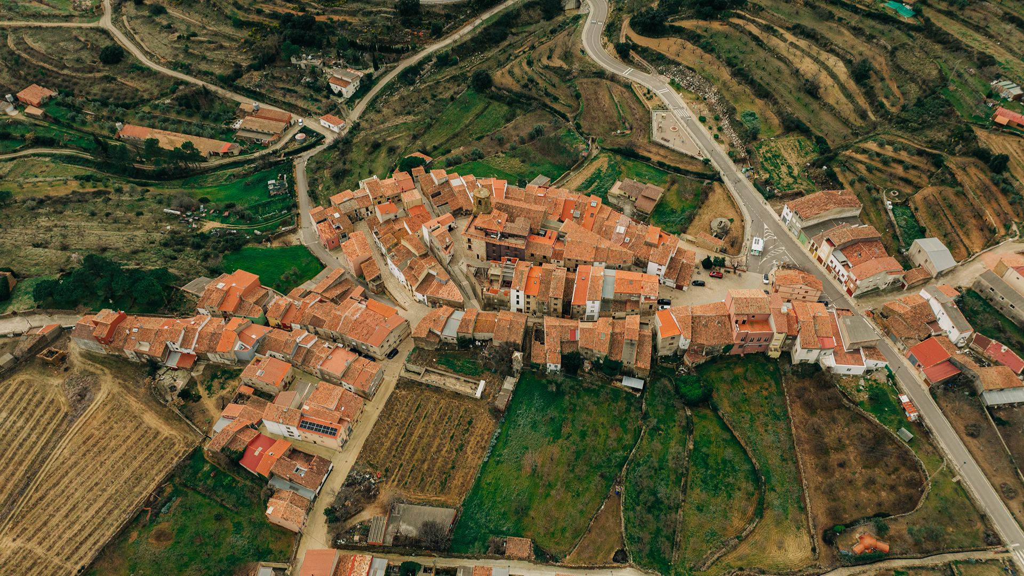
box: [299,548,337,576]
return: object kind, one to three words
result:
barn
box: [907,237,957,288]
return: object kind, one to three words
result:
building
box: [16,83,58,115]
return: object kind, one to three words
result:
house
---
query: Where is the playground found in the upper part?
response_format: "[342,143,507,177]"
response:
[652,110,702,157]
